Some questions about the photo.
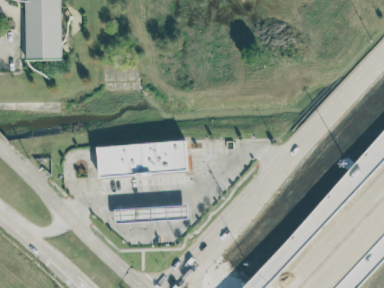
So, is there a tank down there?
No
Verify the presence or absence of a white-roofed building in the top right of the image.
No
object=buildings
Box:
[96,140,188,179]
[20,0,62,60]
